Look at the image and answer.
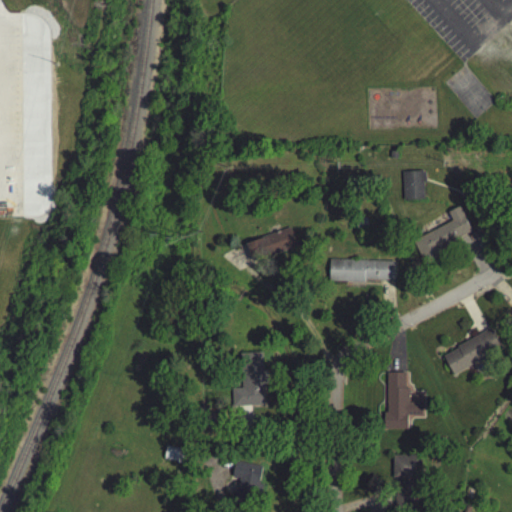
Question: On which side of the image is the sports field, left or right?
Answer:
right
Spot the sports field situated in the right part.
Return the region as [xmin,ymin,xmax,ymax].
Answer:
[224,0,464,140]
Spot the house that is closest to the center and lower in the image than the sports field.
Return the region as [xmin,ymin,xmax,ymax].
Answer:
[246,228,298,260]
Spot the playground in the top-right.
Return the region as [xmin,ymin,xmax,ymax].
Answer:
[368,88,438,128]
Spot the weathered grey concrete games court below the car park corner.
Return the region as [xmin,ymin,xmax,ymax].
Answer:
[446,66,493,117]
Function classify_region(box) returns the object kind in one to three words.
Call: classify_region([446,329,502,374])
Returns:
house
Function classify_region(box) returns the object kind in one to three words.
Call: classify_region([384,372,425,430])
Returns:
house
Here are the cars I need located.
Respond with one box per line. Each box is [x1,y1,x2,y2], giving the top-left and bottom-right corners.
[224,462,234,469]
[394,358,400,370]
